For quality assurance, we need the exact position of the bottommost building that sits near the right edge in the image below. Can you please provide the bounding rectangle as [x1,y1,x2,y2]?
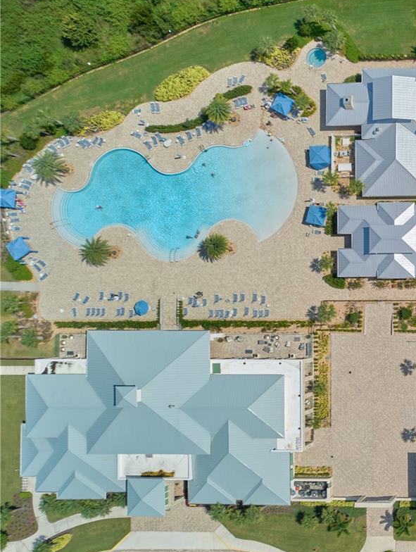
[338,202,416,279]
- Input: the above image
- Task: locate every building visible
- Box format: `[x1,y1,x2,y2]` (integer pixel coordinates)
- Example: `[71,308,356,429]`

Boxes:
[338,202,416,279]
[20,331,311,508]
[327,68,416,196]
